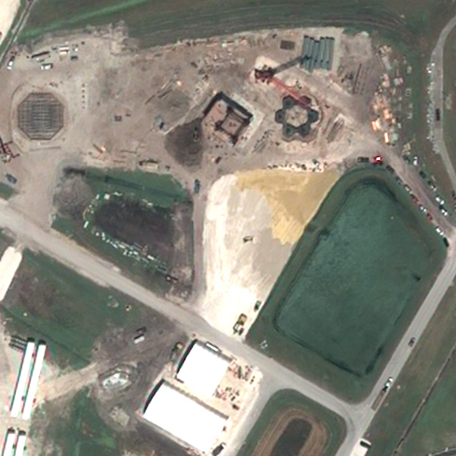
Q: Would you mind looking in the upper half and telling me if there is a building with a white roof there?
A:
No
